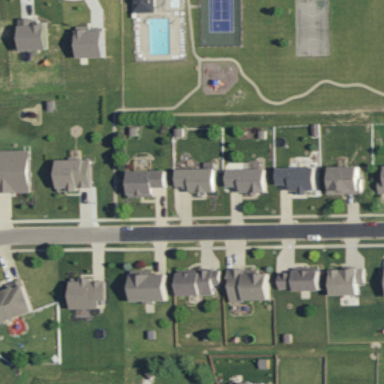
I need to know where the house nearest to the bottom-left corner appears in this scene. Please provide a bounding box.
[0,274,32,322]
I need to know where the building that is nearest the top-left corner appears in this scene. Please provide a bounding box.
[14,18,48,50]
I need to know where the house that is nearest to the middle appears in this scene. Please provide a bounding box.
[171,169,216,196]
